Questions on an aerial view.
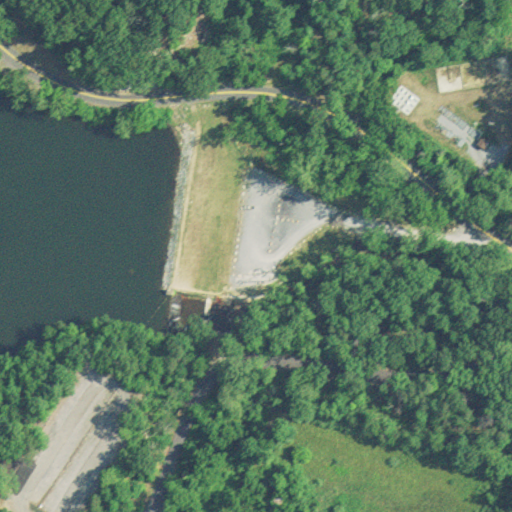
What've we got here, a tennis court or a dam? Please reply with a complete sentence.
I can see a dam in this picture.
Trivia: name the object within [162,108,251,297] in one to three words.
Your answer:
dam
